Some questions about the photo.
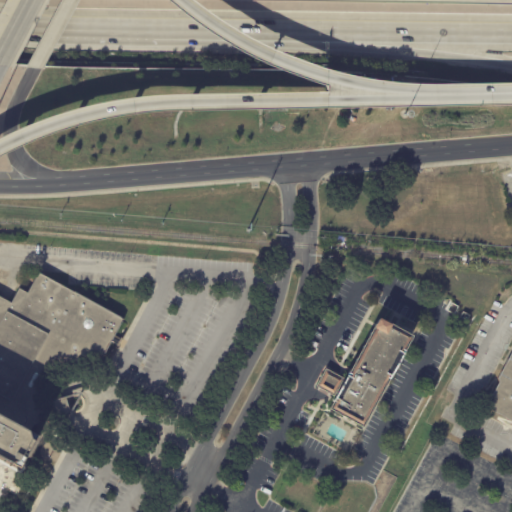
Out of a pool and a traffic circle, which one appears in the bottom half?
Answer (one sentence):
Visible in the bottom half is a pool.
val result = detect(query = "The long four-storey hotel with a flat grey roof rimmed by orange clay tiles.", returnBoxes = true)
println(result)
[332,317,414,426]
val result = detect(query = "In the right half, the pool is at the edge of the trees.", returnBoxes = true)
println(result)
[306,410,365,451]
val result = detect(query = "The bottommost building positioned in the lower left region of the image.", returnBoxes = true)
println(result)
[0,408,39,471]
